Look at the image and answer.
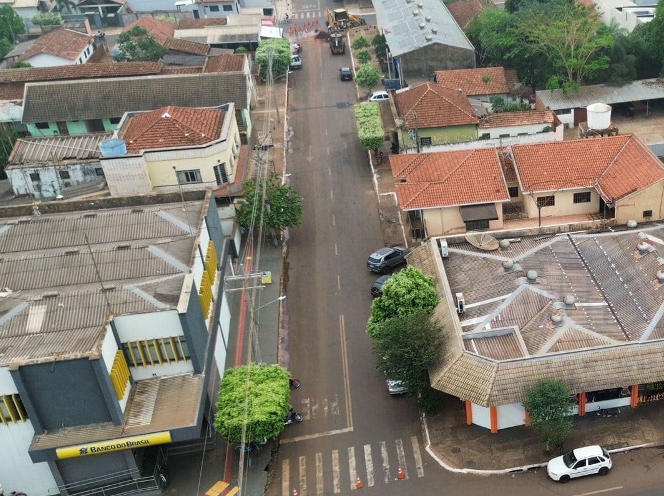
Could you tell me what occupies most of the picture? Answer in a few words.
buildings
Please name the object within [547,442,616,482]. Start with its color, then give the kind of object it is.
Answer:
white car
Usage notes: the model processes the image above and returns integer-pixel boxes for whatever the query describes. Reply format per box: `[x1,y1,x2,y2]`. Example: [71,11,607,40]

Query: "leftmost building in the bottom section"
[0,186,237,496]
